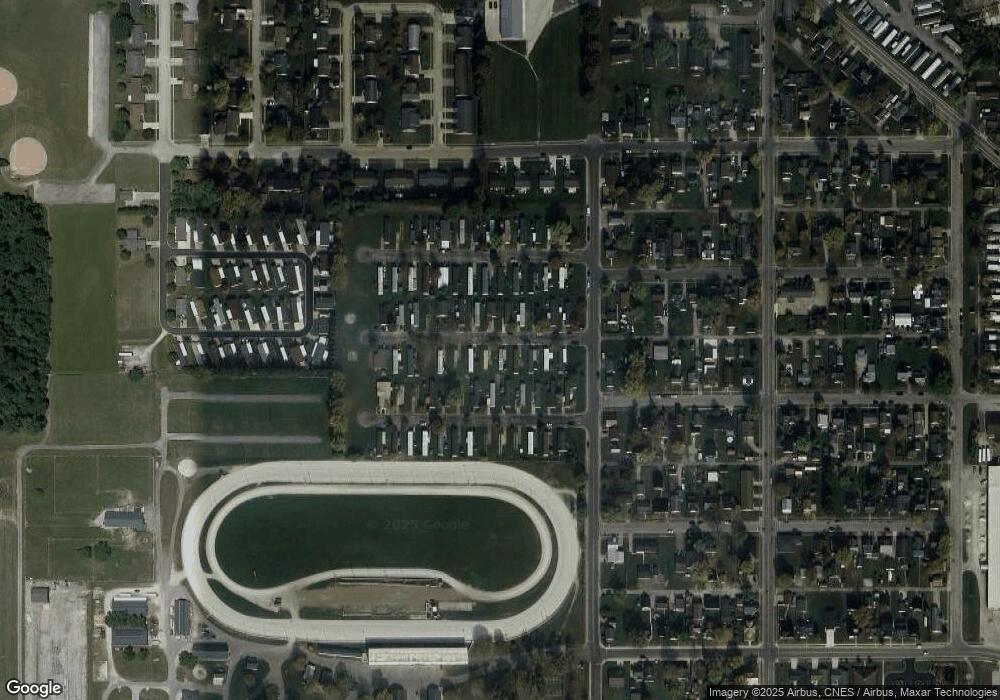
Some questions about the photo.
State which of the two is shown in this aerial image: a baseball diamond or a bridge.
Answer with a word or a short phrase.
baseball diamond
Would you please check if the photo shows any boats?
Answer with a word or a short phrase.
No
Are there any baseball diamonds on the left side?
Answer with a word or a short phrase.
Yes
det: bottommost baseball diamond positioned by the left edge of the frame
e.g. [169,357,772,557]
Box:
[10,139,47,176]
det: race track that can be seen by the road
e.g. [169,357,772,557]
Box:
[181,460,580,649]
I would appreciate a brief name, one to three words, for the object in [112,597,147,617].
barn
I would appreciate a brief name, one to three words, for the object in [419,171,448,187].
building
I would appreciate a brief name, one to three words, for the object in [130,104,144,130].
house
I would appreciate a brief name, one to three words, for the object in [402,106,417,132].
house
